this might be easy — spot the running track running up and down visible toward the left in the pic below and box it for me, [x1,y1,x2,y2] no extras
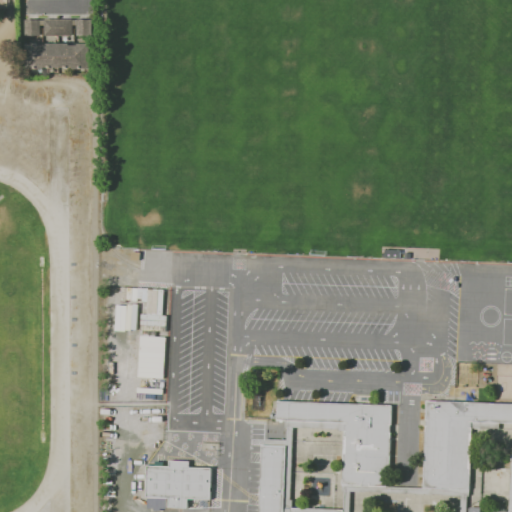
[0,162,70,512]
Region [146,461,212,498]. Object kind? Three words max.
building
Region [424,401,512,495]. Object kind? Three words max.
building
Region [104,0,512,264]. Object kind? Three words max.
sports field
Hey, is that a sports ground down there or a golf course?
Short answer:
sports ground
